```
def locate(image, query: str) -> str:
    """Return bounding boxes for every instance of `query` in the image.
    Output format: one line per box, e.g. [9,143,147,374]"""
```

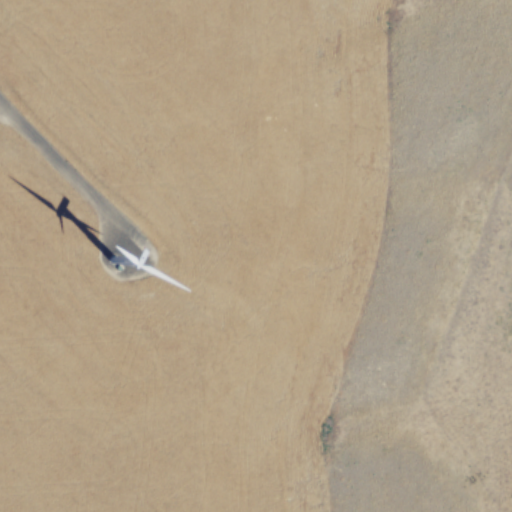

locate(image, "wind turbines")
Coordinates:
[108,244,193,292]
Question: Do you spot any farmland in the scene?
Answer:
Yes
